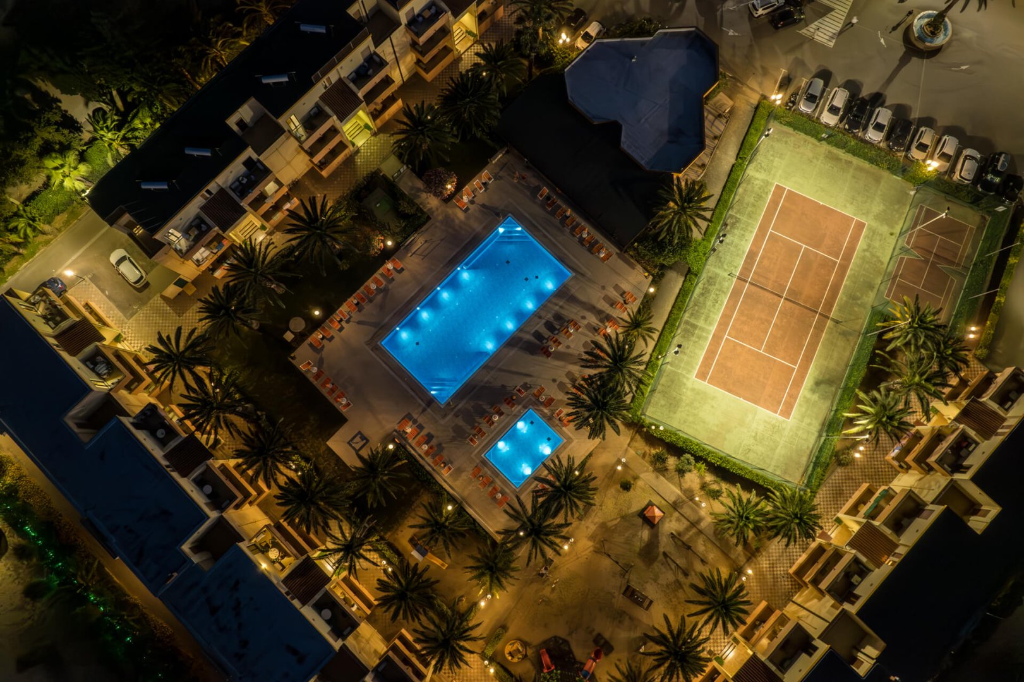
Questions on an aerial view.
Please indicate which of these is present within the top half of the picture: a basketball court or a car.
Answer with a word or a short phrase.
car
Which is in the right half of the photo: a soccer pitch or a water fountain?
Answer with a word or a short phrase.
water fountain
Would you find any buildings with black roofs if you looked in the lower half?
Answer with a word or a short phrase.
Yes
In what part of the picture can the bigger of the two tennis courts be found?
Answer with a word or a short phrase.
right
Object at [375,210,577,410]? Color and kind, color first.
blue swimming pool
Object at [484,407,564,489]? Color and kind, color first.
blue swimming pool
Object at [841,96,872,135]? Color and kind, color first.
black car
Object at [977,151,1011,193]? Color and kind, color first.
black car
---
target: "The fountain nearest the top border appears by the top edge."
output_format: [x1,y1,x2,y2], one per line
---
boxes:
[913,9,957,50]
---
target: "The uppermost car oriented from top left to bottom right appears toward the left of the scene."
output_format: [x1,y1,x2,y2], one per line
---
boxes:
[111,249,148,288]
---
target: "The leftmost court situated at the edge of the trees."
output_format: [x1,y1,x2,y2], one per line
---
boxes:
[644,123,913,483]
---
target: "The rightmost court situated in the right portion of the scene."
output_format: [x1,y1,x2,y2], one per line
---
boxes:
[877,191,984,328]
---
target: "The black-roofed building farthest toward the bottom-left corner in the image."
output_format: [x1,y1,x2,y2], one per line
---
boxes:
[0,295,457,682]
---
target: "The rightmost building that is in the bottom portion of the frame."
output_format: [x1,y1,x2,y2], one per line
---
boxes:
[694,373,1024,682]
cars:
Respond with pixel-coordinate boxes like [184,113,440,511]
[769,4,808,33]
[797,76,826,116]
[560,2,593,37]
[884,116,917,154]
[862,106,893,145]
[951,147,983,186]
[777,82,806,116]
[111,249,148,288]
[746,0,787,18]
[819,87,850,127]
[572,17,606,55]
[928,133,960,174]
[905,124,937,163]
[994,168,1024,206]
[841,96,872,135]
[977,151,1011,193]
